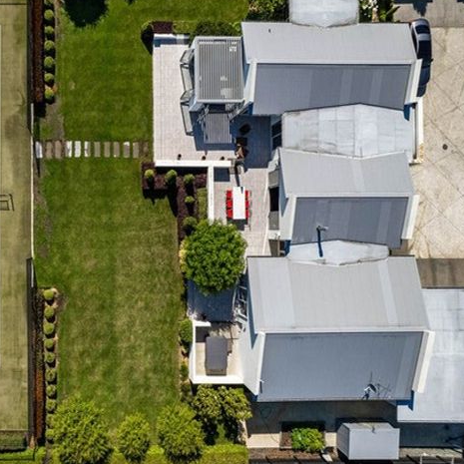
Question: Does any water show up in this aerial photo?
No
